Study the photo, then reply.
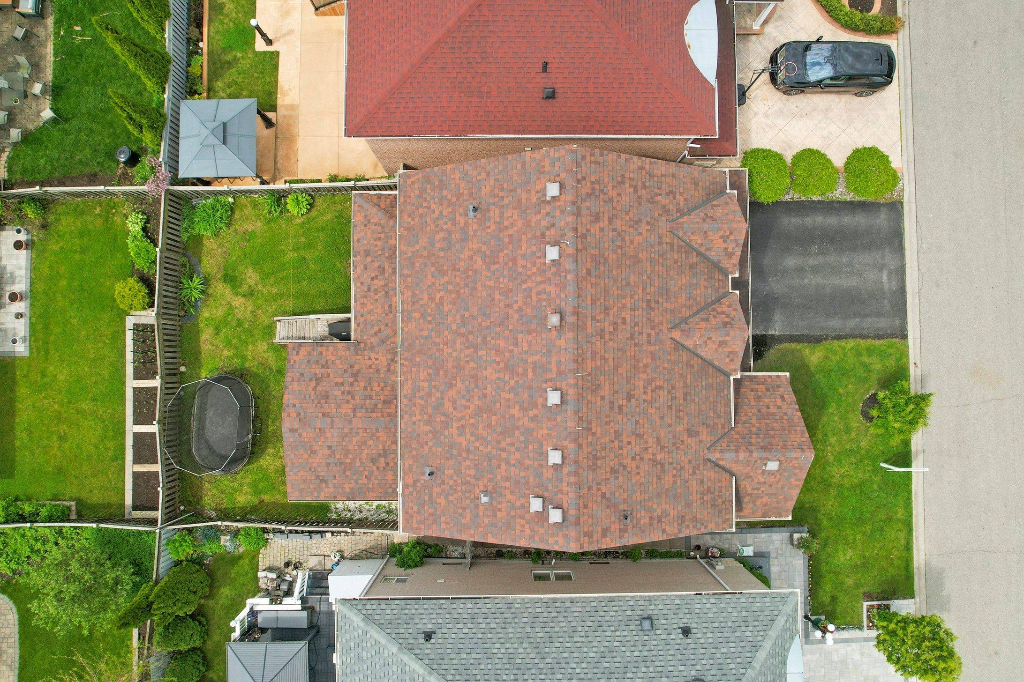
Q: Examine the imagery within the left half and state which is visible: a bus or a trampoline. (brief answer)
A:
trampoline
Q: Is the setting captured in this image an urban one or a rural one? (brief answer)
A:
urban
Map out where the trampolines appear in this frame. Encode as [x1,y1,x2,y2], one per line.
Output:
[165,370,266,476]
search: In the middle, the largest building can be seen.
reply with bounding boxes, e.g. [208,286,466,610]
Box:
[282,145,815,552]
